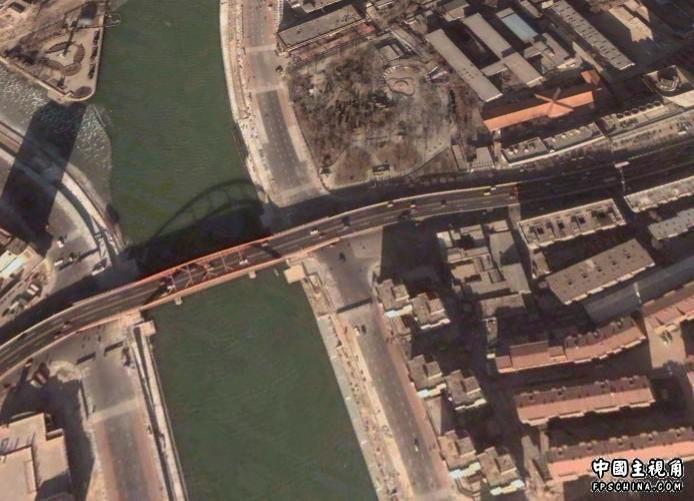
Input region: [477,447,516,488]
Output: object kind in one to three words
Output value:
building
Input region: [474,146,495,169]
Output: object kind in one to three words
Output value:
house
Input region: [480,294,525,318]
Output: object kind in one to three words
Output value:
house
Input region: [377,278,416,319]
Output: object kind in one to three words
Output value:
building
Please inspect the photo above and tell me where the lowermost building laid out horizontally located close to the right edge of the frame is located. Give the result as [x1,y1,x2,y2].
[546,426,694,485]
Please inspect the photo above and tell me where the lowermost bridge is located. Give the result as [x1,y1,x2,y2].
[0,175,569,381]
